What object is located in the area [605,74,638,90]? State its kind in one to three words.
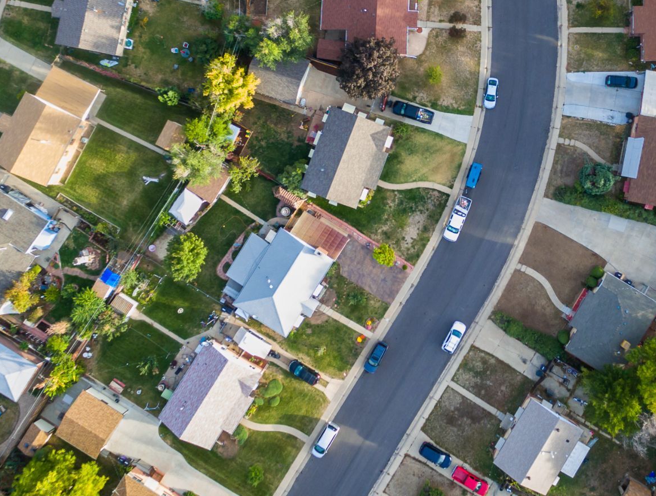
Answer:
car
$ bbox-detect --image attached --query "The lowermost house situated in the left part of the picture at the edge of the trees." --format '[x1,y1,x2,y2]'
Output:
[104,457,182,496]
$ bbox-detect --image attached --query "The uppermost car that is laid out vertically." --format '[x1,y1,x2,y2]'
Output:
[483,77,498,109]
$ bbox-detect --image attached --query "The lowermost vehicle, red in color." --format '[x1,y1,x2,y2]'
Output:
[450,465,491,495]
